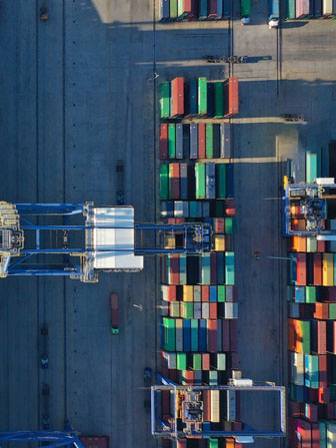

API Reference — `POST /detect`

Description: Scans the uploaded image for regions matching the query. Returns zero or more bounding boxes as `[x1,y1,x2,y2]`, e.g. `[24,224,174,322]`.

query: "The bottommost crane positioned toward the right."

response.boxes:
[152,364,287,442]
